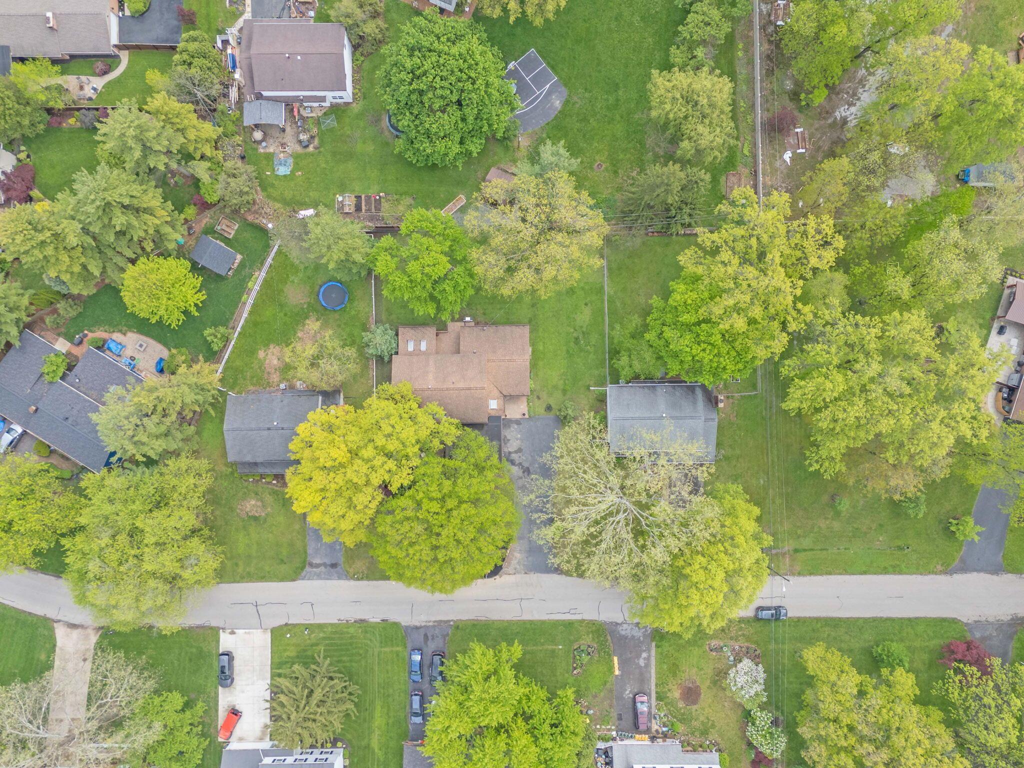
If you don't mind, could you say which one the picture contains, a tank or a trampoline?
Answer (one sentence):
It is a trampoline that can be seen here.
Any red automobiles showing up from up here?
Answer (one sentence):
Yes, a red automobile can be made out from above.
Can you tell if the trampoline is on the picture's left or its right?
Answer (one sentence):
The trampoline sits on the left side.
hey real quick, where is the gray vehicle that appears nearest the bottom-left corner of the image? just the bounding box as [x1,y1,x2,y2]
[215,652,233,688]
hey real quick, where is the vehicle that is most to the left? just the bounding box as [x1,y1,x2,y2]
[0,424,22,458]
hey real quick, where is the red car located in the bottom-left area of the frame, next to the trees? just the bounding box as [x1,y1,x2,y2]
[216,709,240,744]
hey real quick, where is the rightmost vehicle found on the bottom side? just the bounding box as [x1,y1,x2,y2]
[758,606,789,624]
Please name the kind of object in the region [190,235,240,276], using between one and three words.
shed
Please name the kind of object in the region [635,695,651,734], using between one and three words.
car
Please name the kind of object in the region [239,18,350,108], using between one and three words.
house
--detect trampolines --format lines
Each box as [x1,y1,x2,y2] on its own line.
[315,278,347,310]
